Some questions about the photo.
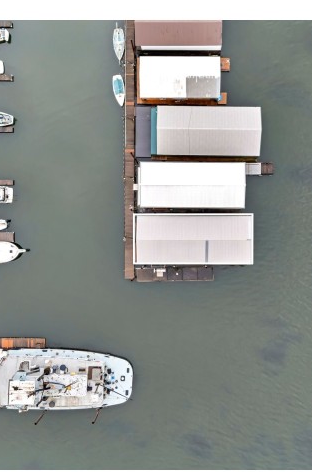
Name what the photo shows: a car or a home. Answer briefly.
home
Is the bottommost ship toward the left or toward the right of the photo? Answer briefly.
left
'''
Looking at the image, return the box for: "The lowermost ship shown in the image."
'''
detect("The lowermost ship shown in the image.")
[0,344,134,413]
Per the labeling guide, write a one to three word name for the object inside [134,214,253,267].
house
